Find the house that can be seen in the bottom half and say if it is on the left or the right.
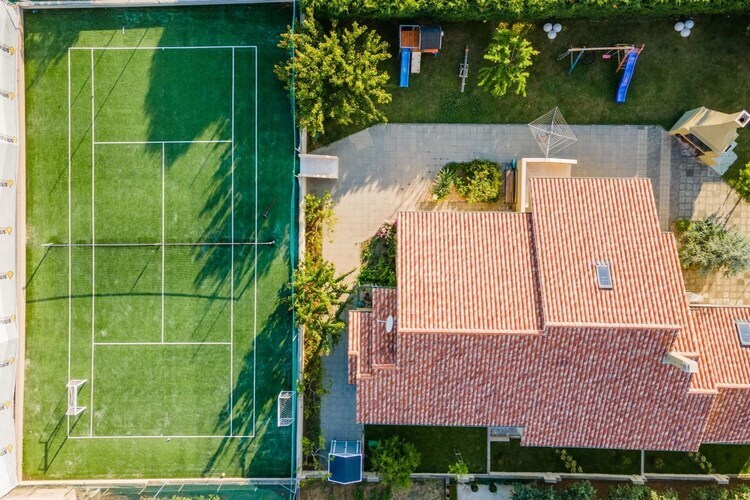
right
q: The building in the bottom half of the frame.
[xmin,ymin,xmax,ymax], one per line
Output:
[346,157,750,449]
